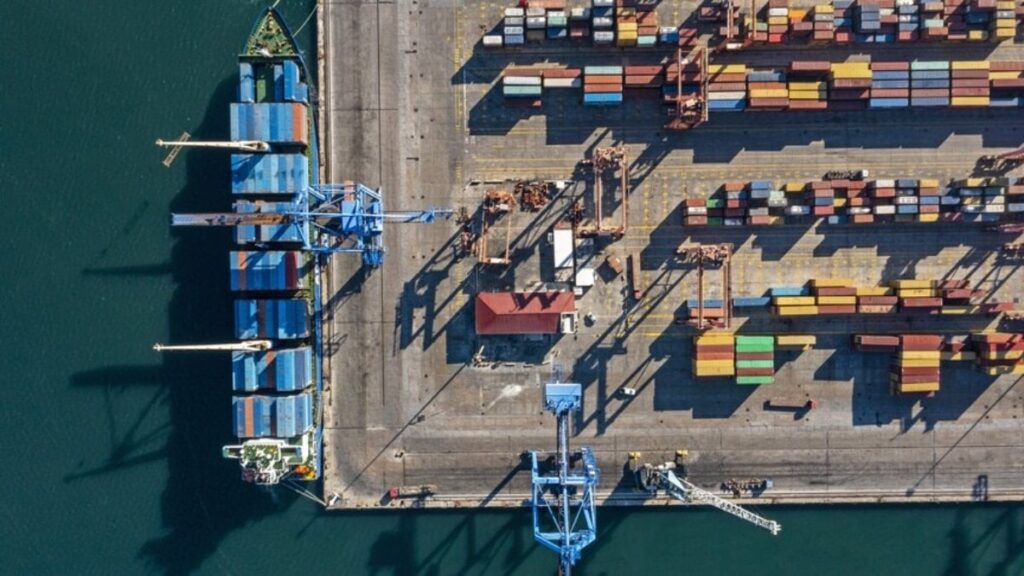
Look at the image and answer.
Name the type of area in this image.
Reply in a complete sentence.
The area seen from above is a port.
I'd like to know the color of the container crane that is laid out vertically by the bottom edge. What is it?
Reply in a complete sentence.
The container crane that is laid out vertically by the bottom edge looks blue in the image.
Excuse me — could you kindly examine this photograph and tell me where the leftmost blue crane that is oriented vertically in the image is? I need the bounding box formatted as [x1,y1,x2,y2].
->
[521,362,600,576]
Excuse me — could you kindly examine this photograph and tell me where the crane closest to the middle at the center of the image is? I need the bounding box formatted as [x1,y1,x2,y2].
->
[477,194,515,269]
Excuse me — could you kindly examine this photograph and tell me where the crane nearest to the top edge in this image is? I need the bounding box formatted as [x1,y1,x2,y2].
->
[709,0,756,62]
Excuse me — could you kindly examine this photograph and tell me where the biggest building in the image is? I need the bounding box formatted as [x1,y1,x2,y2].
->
[475,291,578,336]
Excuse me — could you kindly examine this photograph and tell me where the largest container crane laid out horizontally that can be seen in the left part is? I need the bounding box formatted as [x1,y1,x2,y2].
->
[176,182,448,270]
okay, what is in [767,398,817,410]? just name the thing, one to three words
vehicle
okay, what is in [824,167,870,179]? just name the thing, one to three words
vehicle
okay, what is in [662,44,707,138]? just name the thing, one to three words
container crane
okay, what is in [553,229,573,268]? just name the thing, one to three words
shed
